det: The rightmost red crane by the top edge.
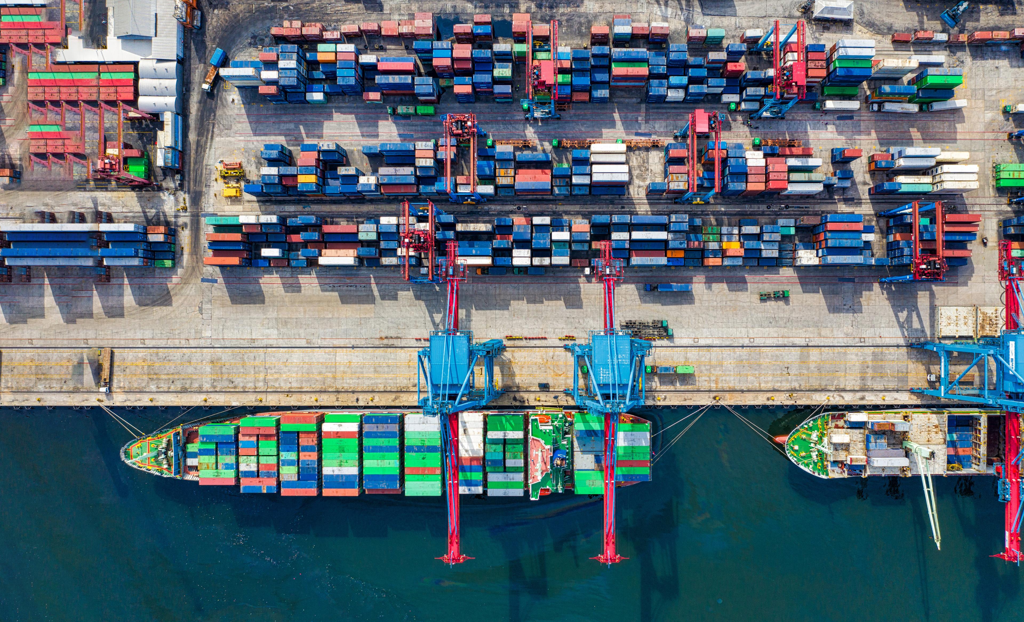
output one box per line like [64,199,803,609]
[751,20,807,116]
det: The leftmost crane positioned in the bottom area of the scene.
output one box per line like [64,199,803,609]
[418,239,506,573]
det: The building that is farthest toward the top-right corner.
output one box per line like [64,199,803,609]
[807,0,854,31]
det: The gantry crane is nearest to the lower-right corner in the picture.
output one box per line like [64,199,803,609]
[912,239,1024,573]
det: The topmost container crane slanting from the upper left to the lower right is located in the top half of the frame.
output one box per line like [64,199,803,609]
[62,0,115,42]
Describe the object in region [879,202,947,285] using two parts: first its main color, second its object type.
red container crane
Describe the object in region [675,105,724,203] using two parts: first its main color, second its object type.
red container crane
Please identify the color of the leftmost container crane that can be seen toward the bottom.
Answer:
blue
